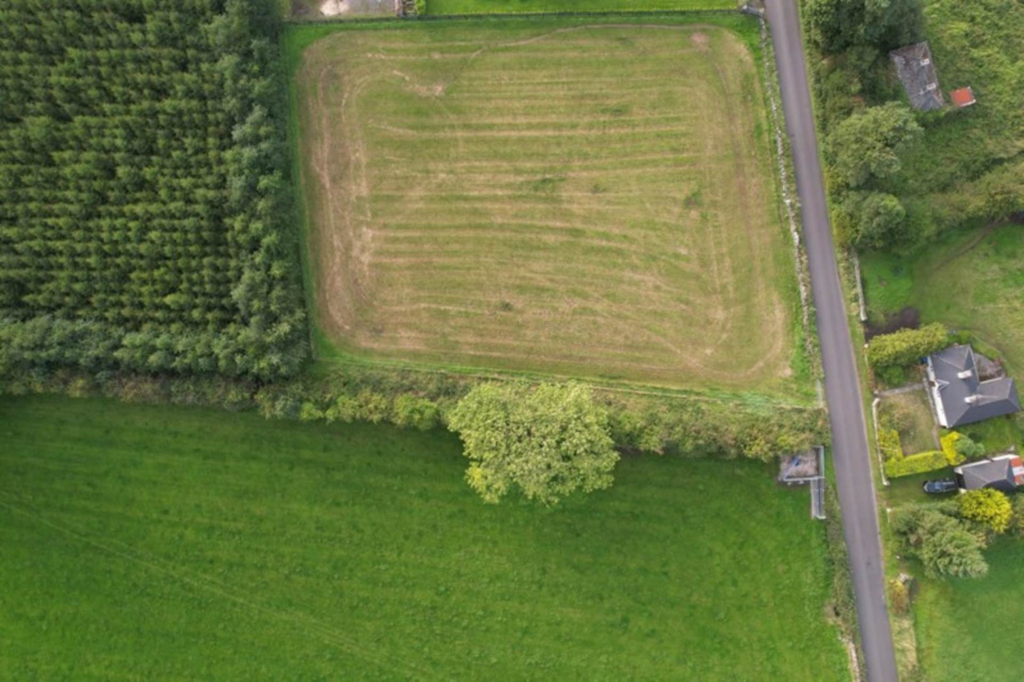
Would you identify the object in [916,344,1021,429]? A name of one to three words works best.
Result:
house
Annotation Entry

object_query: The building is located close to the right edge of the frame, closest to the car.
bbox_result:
[952,457,1016,490]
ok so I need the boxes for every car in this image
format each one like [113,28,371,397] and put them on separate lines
[920,477,958,496]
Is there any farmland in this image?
Yes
